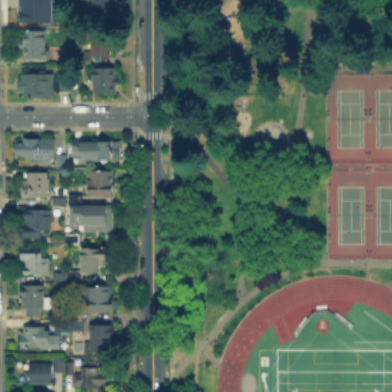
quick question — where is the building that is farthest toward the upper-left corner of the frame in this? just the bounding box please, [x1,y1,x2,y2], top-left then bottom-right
[18,0,52,24]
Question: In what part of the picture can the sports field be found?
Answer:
bottom right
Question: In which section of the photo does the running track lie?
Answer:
bottom right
